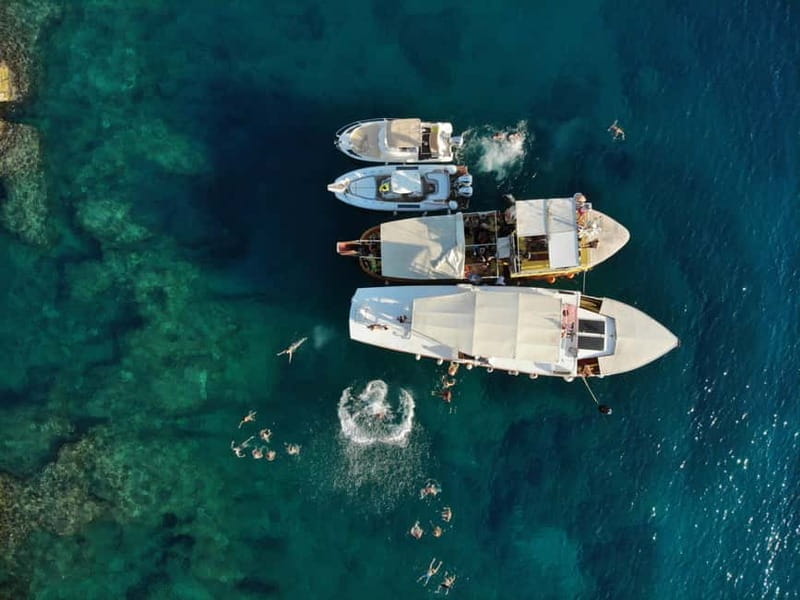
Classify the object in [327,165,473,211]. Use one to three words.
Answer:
boat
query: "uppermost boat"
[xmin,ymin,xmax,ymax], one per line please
[334,119,464,163]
